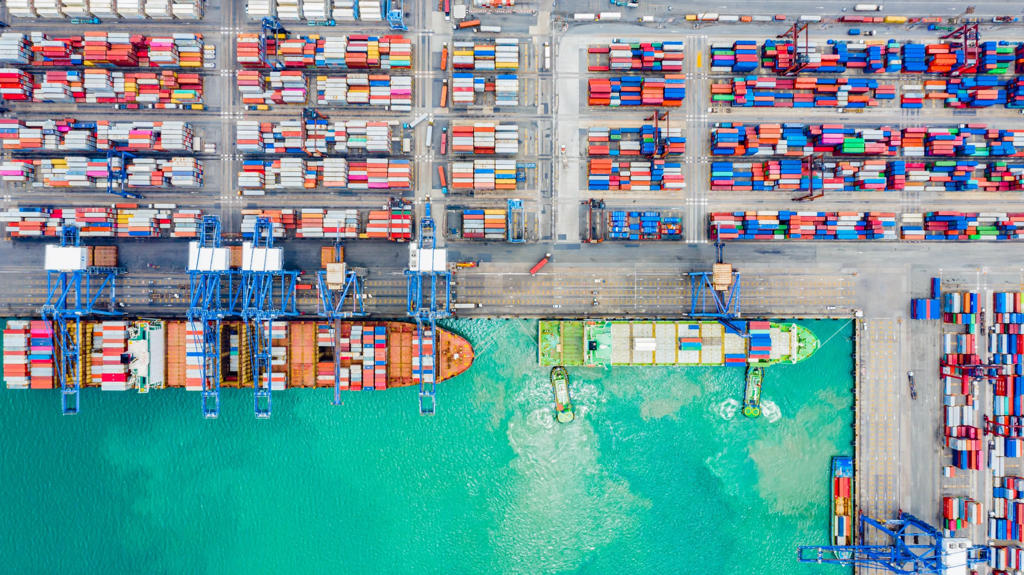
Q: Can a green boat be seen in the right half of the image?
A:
Yes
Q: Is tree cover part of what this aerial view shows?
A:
No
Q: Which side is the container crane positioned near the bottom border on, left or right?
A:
right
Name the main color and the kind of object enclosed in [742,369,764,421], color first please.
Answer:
green boat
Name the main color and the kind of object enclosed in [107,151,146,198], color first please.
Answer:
blue container crane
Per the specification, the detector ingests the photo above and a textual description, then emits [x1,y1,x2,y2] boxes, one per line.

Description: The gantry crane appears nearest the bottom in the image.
[796,508,992,575]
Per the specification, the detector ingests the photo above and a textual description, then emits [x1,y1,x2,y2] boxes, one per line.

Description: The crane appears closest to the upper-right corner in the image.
[938,24,980,76]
